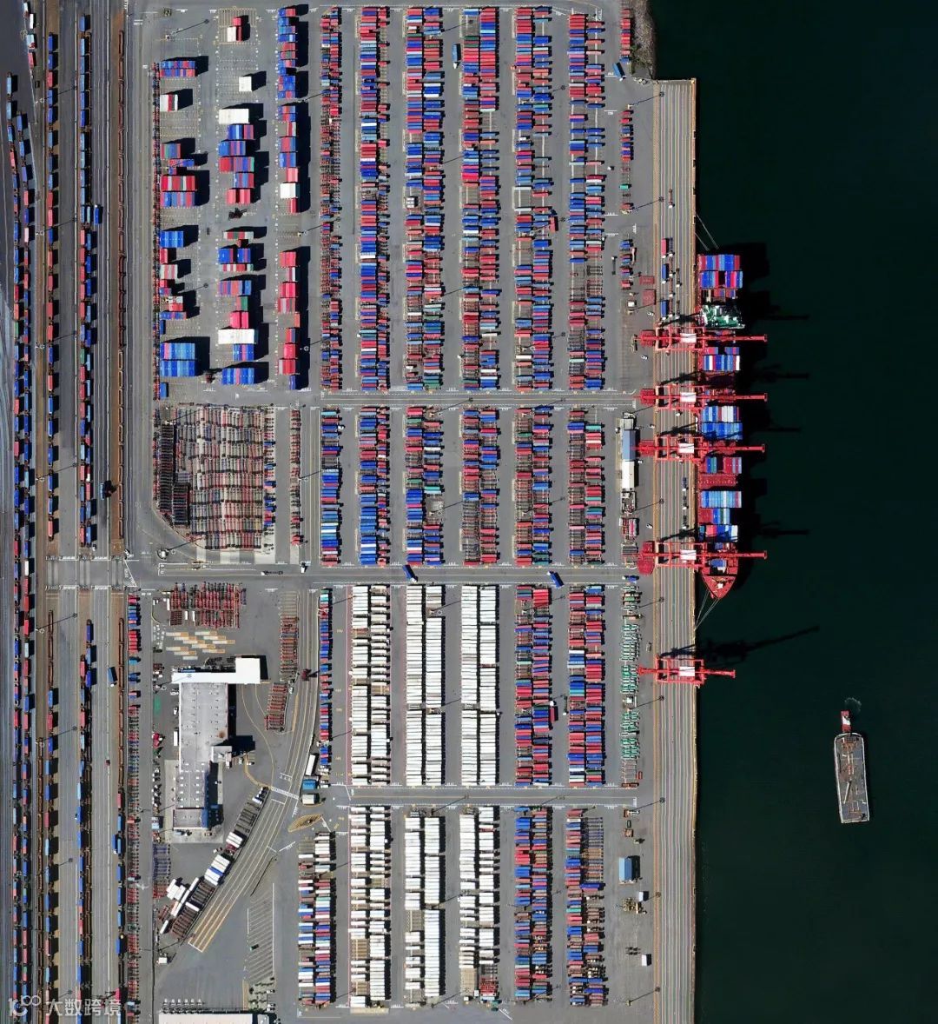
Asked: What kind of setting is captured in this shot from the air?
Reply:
port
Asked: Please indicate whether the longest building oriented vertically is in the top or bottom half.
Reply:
bottom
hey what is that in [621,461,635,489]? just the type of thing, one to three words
building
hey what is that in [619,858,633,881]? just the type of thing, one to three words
shed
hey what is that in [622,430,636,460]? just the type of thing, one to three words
building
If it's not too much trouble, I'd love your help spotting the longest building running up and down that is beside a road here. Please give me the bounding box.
[172,658,261,827]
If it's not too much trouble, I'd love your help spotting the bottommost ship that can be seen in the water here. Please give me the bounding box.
[835,733,869,823]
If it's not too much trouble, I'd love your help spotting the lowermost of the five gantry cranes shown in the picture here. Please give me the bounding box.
[639,654,739,687]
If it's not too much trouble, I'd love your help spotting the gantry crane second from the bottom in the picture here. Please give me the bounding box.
[639,539,768,571]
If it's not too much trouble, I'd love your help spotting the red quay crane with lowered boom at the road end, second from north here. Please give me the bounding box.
[639,381,768,414]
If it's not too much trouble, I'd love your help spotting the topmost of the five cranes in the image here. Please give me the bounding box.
[639,322,768,355]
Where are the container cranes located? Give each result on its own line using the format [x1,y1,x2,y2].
[639,654,739,687]
[639,539,768,571]
[639,322,768,355]
[639,381,768,414]
[639,432,766,465]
